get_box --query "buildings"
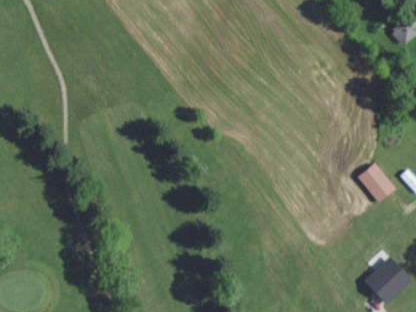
[366,250,413,304]
[359,163,396,202]
[393,13,416,44]
[401,168,416,194]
